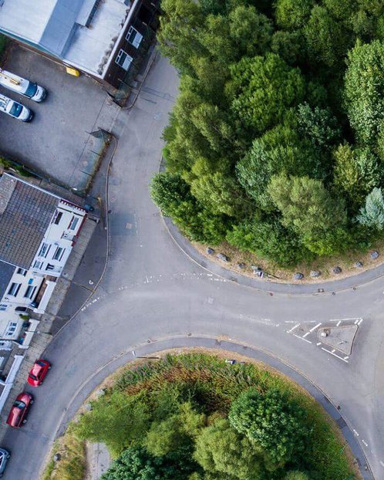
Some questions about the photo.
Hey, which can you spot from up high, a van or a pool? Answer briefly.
van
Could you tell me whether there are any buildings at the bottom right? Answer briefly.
No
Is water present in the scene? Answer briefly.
No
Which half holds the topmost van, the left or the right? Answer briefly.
left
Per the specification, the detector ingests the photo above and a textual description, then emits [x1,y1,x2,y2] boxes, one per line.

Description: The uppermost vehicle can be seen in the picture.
[0,66,48,103]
